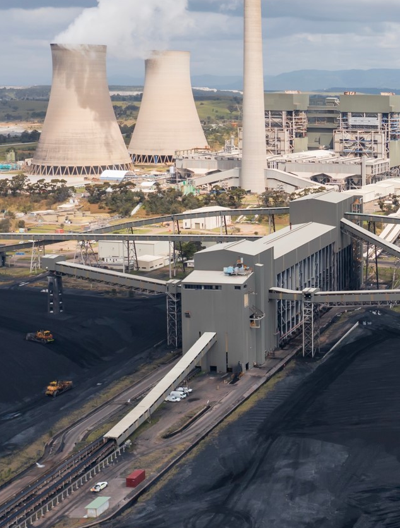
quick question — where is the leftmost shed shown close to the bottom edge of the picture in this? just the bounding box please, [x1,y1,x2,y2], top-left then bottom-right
[82,498,113,517]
